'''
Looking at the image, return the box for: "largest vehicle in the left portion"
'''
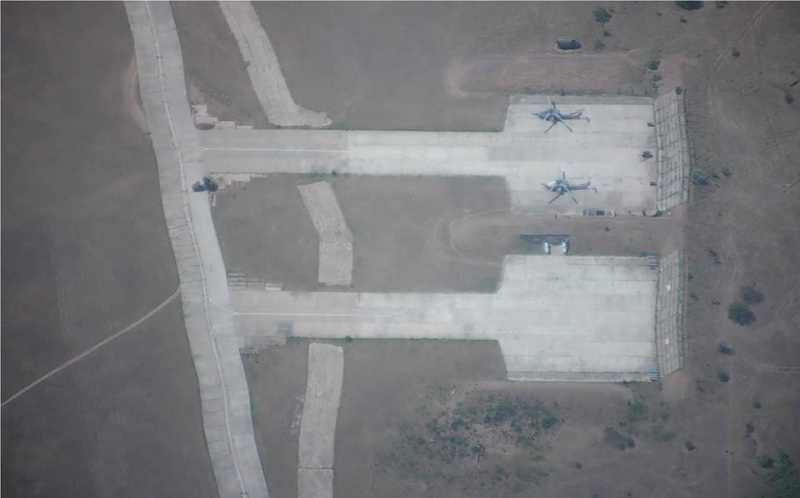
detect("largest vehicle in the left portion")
[203,179,220,192]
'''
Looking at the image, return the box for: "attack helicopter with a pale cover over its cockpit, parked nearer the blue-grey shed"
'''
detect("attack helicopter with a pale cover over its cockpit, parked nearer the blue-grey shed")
[538,167,596,199]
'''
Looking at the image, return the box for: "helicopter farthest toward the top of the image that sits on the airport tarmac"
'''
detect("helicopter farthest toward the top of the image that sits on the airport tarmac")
[529,96,587,127]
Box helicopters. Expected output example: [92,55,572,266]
[529,96,587,127]
[538,167,596,199]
